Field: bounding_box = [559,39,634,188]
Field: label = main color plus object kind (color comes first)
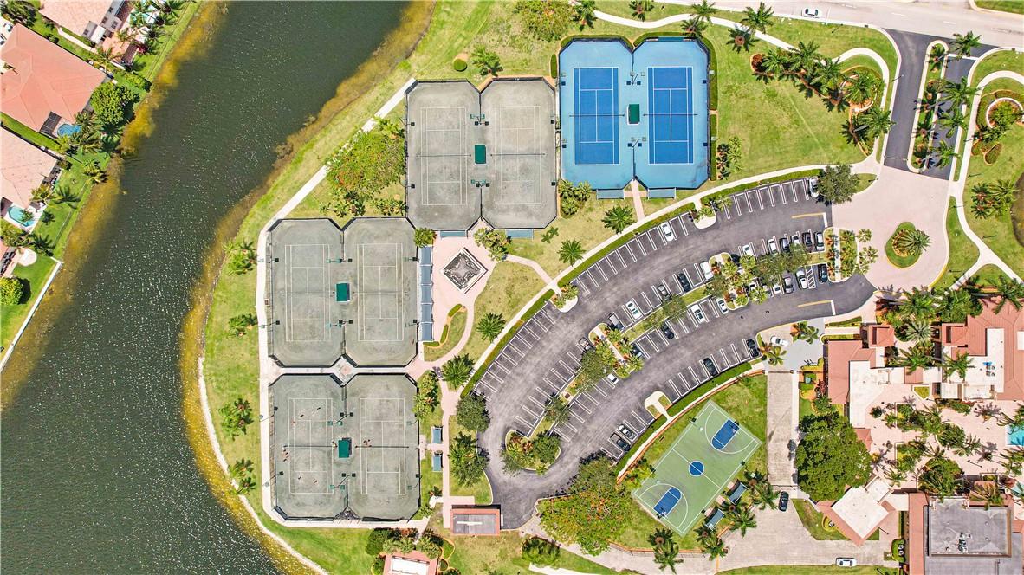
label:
blue tennis court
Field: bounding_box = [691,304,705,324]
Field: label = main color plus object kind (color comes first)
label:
white car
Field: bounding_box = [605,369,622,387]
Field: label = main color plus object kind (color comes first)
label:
white car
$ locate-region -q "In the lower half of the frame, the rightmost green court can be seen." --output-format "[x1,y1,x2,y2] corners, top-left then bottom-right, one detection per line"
[631,400,763,536]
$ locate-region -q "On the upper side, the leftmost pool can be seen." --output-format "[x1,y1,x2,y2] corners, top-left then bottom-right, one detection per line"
[3,201,47,232]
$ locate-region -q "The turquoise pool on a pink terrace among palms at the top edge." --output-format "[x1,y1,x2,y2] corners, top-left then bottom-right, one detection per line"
[123,0,168,43]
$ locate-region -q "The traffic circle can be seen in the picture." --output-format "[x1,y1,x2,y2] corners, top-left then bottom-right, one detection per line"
[832,165,948,295]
